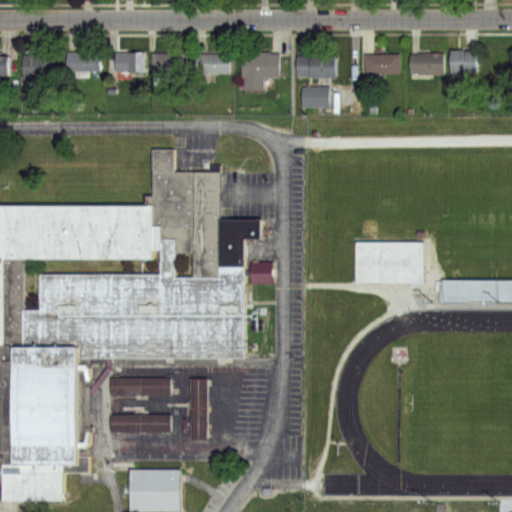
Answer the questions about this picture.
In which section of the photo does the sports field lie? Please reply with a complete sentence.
The sports field is located in the bottom right region of the scene.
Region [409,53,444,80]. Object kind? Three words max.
house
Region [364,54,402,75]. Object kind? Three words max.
house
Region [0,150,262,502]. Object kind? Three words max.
building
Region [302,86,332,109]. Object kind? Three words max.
building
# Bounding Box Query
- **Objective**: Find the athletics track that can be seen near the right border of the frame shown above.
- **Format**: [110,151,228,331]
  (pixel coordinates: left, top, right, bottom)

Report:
[325,312,512,494]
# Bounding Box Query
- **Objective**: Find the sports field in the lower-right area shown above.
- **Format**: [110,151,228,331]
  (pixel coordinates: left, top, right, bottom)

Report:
[358,331,512,475]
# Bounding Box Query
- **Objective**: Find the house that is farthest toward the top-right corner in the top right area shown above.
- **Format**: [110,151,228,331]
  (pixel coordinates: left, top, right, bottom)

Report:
[448,50,477,74]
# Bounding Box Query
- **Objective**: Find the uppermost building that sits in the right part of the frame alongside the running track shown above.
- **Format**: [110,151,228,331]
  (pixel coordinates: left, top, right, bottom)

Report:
[356,242,426,284]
